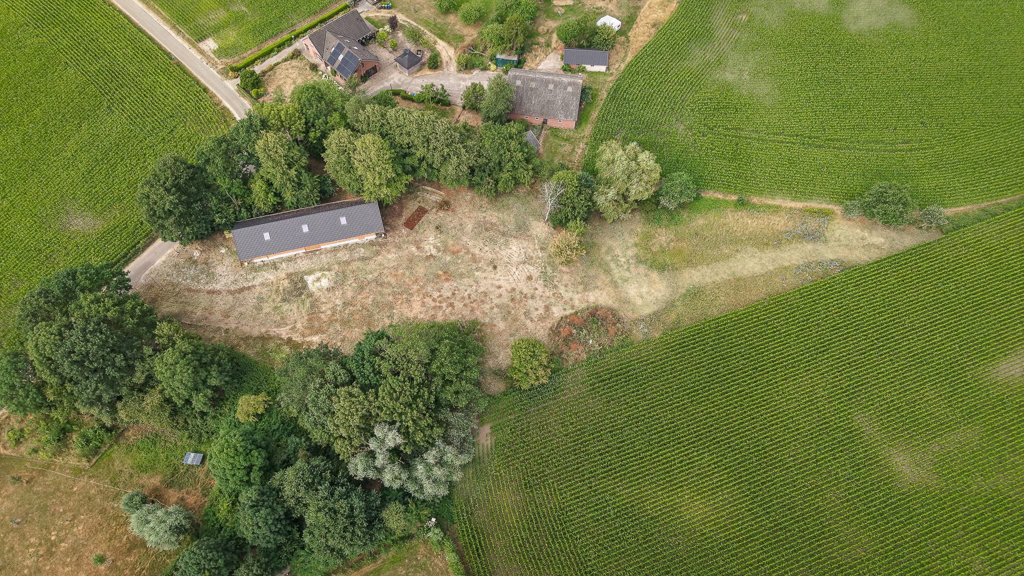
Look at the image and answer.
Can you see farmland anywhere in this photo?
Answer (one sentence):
Yes, farmland shows up in the scene.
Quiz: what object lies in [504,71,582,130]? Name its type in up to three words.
barn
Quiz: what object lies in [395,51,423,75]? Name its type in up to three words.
building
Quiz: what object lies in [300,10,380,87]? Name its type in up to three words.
house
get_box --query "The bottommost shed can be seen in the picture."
[232,194,385,268]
